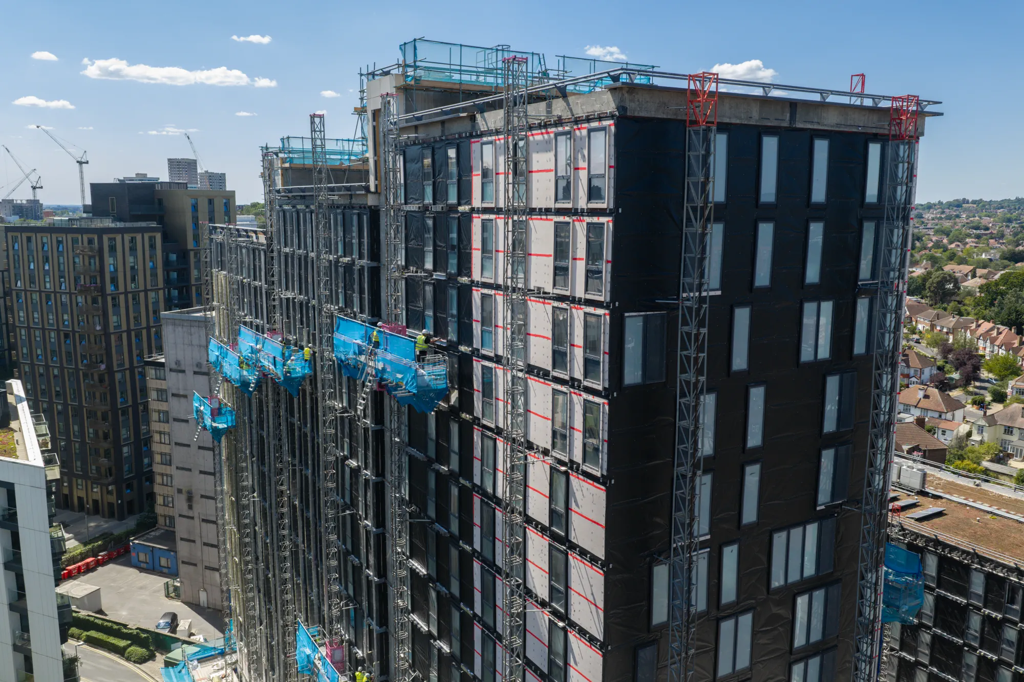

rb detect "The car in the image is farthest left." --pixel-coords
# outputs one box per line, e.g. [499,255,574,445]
[153,610,180,634]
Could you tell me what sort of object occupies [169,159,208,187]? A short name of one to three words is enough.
building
